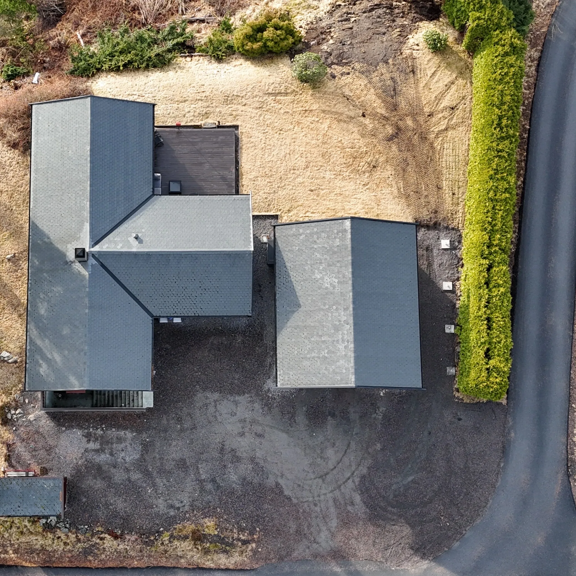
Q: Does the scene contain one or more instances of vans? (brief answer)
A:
No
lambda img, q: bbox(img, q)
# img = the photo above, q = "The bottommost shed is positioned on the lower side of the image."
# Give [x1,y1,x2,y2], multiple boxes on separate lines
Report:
[0,475,69,522]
